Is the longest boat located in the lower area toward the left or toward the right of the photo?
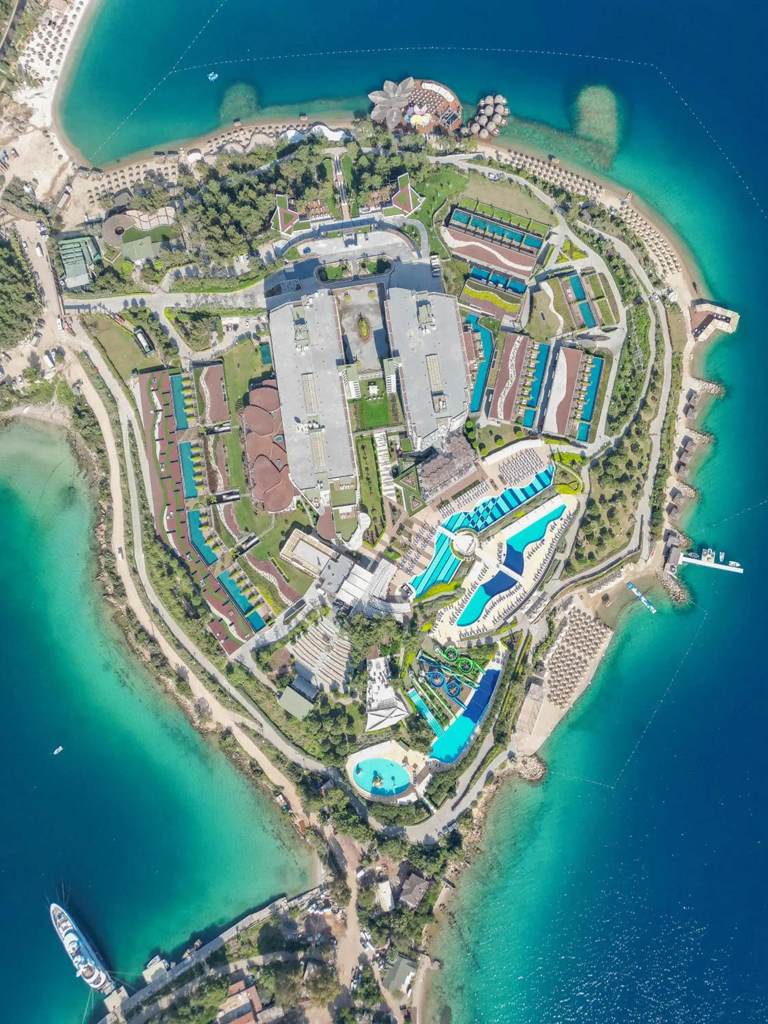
left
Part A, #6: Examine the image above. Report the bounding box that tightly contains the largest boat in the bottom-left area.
[46,882,137,1022]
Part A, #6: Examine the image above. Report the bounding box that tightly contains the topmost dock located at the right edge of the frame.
[690,303,740,343]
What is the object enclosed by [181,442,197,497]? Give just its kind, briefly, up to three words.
swimming pool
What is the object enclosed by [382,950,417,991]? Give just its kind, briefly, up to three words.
building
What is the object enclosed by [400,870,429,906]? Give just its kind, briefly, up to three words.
house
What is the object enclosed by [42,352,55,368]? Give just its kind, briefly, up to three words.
vehicle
